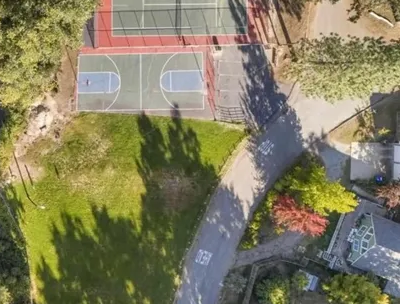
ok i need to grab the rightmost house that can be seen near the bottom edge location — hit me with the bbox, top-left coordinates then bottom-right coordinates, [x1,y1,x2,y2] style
[345,211,400,302]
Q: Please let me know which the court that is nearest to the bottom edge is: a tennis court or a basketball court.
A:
basketball court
